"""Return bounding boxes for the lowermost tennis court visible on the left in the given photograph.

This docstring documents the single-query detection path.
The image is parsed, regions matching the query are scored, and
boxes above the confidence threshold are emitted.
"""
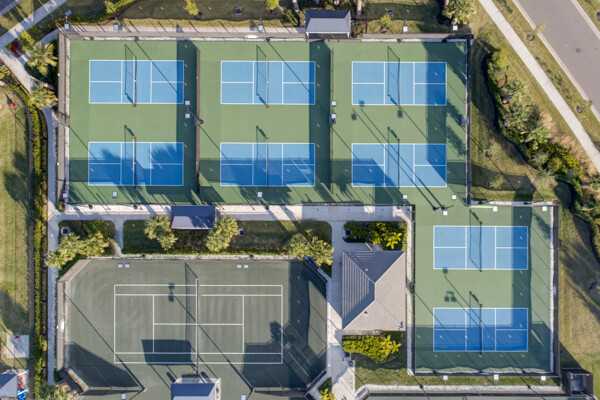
[70,257,327,400]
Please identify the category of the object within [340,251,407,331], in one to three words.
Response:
building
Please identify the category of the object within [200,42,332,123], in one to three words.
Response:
sports court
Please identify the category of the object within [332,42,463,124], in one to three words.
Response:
sports court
